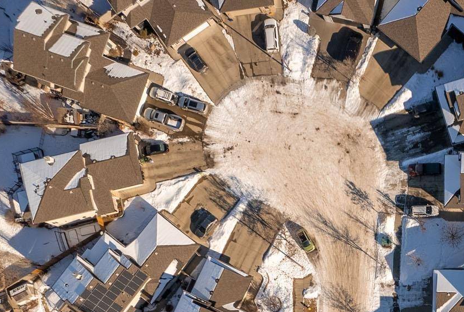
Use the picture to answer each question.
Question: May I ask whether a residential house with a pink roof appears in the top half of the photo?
No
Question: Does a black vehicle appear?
Yes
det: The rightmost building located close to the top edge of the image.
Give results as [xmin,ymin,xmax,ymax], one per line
[372,0,464,66]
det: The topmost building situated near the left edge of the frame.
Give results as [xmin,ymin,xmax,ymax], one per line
[10,1,153,124]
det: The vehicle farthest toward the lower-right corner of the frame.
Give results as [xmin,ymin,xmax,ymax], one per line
[410,202,439,217]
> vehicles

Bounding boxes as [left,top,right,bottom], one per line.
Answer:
[142,138,169,155]
[408,160,441,177]
[260,16,279,53]
[343,28,361,60]
[183,44,209,73]
[189,209,217,234]
[410,202,439,217]
[177,94,207,114]
[141,104,186,133]
[148,85,178,108]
